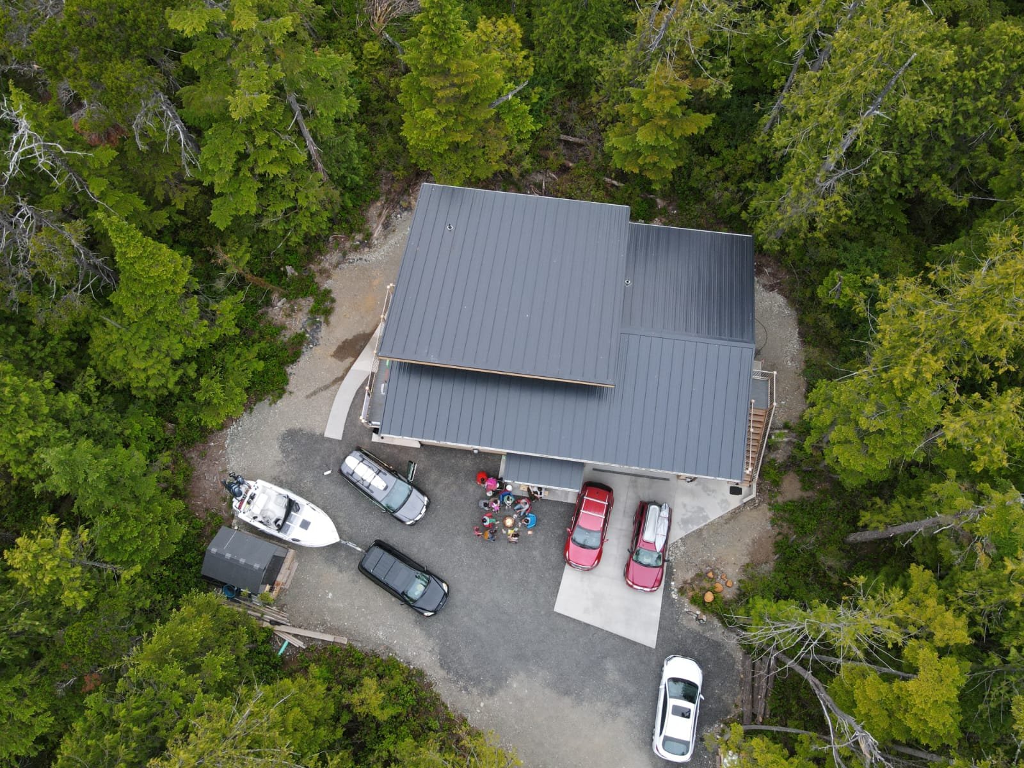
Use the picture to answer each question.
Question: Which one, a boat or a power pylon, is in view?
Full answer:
Visible in the photo is a boat.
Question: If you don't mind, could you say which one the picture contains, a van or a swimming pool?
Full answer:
I can see a van in this picture.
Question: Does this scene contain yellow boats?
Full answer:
No, the photo shows no yellow boat.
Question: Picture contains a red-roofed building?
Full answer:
No, the picture doesn't show any red-roofed building.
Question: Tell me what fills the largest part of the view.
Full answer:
For the most part, this view shows trees.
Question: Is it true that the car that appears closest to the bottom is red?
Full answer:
No, the car that appears closest to the bottom is actually white.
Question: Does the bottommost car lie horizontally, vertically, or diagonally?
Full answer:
From this overhead view, the bottommost car appears to run vertically.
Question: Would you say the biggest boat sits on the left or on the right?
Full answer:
It is on the left.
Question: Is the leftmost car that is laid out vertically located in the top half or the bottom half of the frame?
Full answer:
It is in the bottom half that the leftmost car that is laid out vertically appears.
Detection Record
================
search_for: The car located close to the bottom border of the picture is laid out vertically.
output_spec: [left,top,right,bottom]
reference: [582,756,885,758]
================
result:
[649,654,705,764]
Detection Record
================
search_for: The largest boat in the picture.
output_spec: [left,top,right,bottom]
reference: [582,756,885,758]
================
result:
[227,473,339,549]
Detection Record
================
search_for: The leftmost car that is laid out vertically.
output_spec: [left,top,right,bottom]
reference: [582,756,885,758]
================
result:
[561,480,616,574]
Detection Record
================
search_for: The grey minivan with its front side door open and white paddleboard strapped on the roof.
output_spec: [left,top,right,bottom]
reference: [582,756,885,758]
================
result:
[337,448,431,526]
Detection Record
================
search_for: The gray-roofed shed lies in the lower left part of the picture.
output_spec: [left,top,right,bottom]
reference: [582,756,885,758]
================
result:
[204,525,290,594]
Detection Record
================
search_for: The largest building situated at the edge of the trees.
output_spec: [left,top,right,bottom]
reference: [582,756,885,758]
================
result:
[379,183,762,498]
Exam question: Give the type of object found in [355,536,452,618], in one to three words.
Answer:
van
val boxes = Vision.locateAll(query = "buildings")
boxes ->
[204,525,290,594]
[379,183,762,498]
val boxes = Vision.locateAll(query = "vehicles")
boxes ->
[622,499,670,596]
[337,448,431,526]
[649,654,705,764]
[561,480,616,574]
[355,536,452,618]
